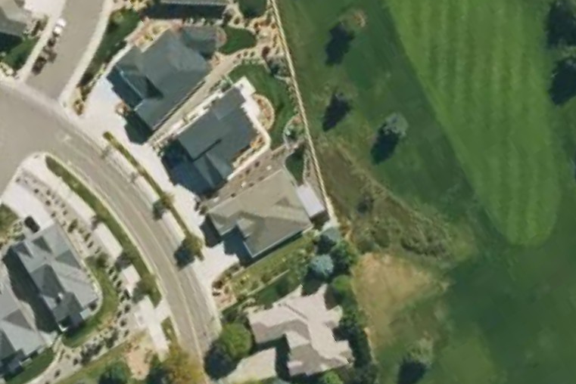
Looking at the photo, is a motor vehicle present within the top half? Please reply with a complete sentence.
Yes, the scene does show a motor vehicle within the top half.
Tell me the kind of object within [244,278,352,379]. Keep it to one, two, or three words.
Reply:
house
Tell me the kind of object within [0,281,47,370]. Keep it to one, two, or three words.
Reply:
house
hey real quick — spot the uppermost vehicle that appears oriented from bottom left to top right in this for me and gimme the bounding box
[50,14,70,39]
